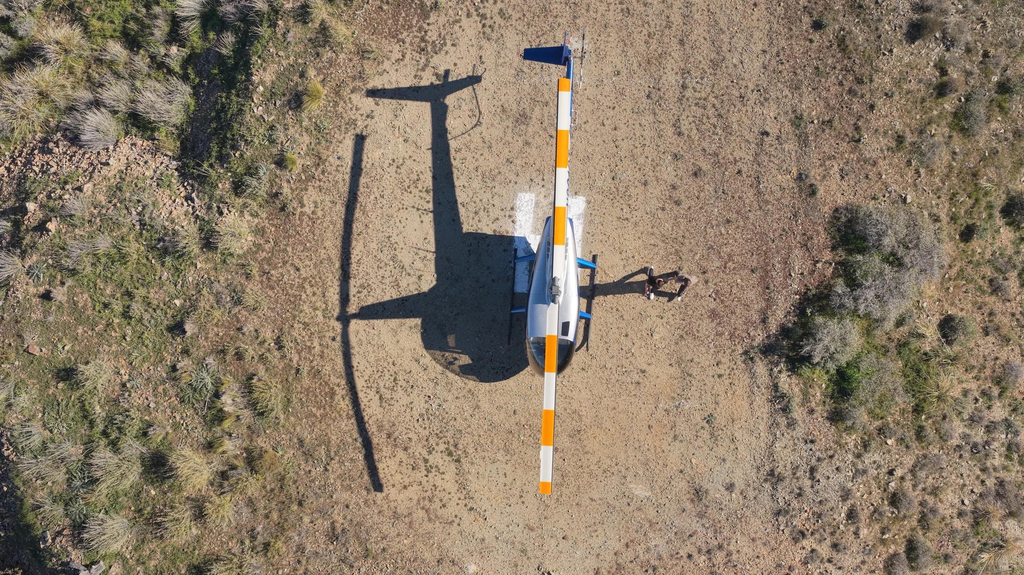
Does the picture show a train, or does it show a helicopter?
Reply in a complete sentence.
There is a helicopter in the scene.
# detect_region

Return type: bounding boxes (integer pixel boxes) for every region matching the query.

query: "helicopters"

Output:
[507,24,597,495]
